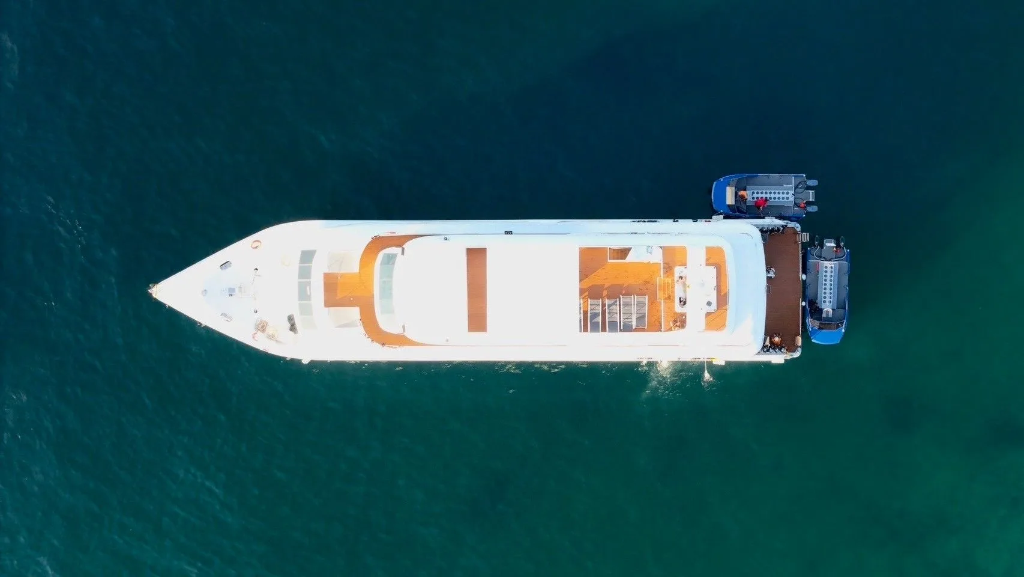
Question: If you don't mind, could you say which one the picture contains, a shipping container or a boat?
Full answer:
This aerial view contains a boat.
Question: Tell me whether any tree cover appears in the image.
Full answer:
No, the scene doesn't show any tree cover.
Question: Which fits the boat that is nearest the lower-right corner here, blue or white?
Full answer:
The color of the boat that is nearest the lower-right corner is blue.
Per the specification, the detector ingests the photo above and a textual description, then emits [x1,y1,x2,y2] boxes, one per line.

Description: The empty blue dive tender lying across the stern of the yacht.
[804,237,850,344]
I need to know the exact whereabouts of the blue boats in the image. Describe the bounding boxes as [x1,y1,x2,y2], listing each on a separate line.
[804,237,850,344]
[711,174,820,217]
